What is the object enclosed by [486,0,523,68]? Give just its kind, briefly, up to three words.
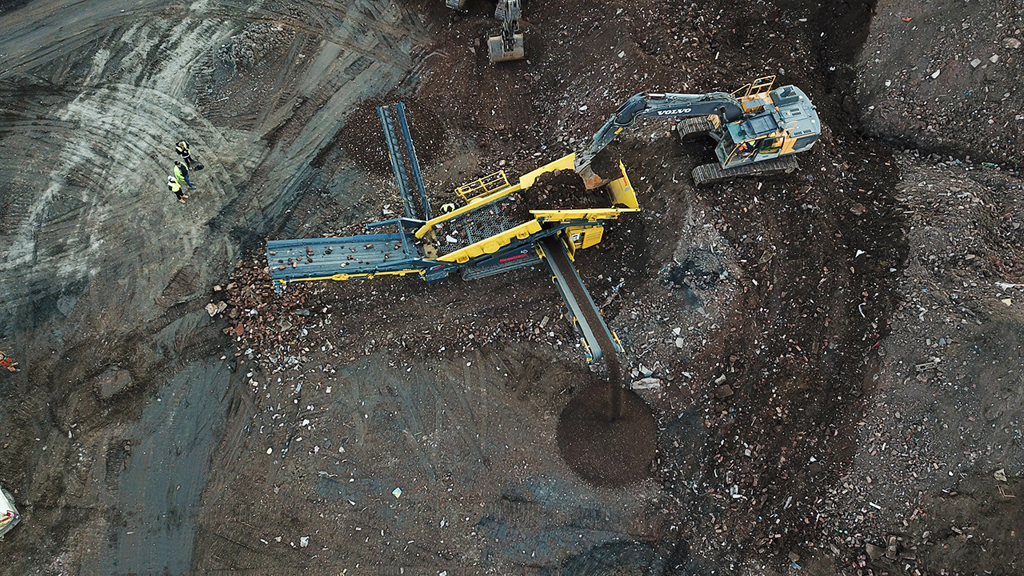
work vehicle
